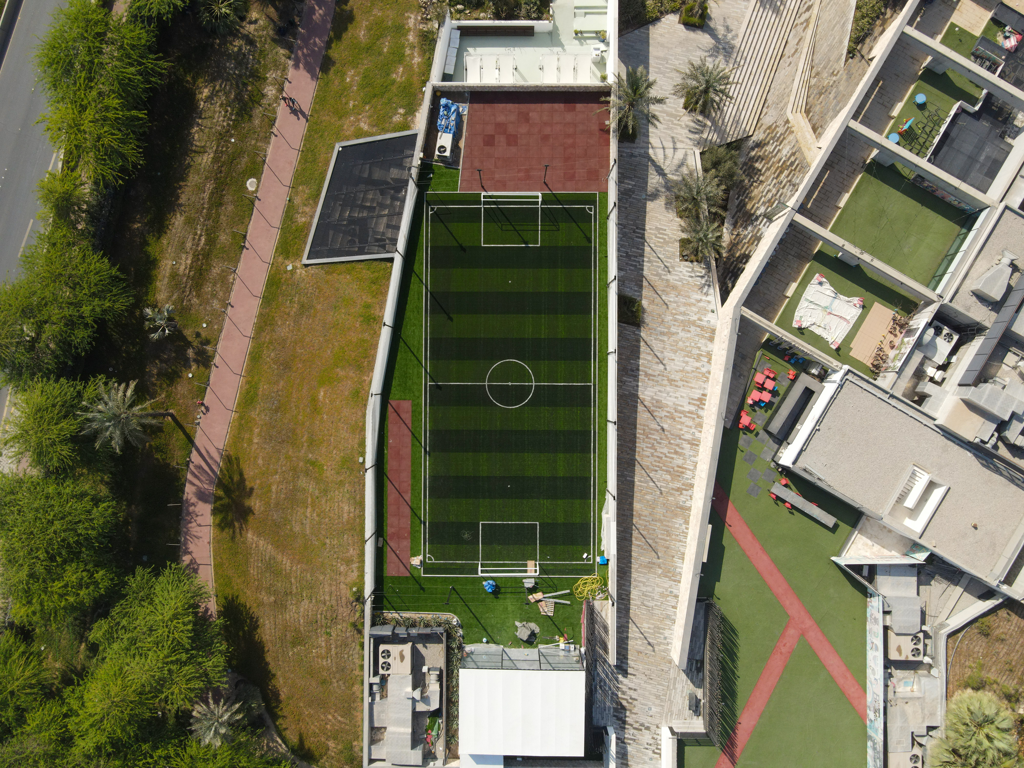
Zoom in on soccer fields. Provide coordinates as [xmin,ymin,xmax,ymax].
[422,192,598,577]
